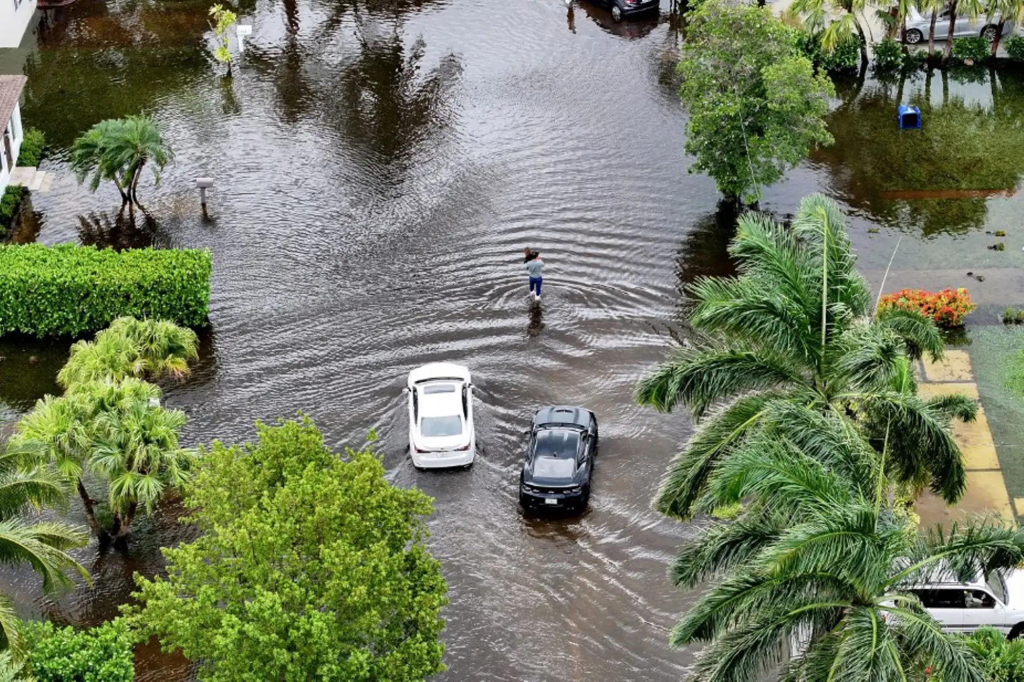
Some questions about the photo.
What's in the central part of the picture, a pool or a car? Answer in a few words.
car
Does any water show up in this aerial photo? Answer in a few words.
Yes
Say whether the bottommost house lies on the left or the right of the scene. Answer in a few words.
left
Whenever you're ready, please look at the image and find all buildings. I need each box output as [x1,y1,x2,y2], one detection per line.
[0,77,82,197]
[0,0,37,47]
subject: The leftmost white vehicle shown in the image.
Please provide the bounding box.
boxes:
[402,358,474,465]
